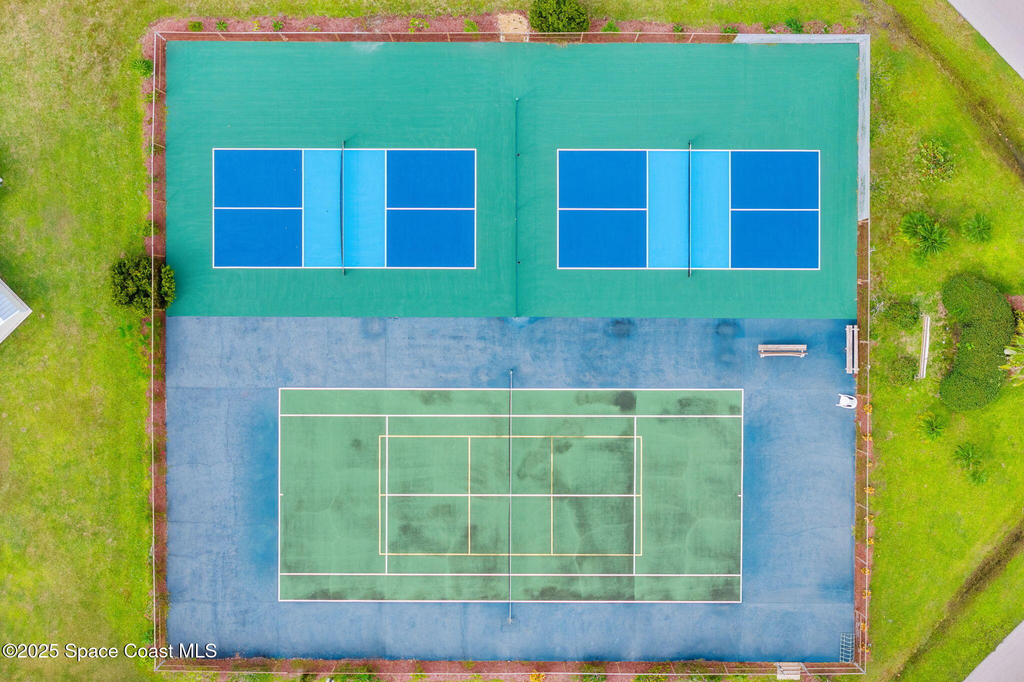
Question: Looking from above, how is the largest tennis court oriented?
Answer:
from left to right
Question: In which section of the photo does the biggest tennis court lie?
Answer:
bottom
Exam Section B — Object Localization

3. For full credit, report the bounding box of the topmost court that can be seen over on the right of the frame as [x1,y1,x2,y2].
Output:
[557,148,821,270]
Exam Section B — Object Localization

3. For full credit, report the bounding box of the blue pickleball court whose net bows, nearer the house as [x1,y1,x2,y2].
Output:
[212,148,476,269]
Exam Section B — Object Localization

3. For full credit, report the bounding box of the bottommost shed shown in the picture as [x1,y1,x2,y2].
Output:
[0,277,34,346]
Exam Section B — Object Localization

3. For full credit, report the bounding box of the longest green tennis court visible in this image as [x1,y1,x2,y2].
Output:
[278,388,744,604]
